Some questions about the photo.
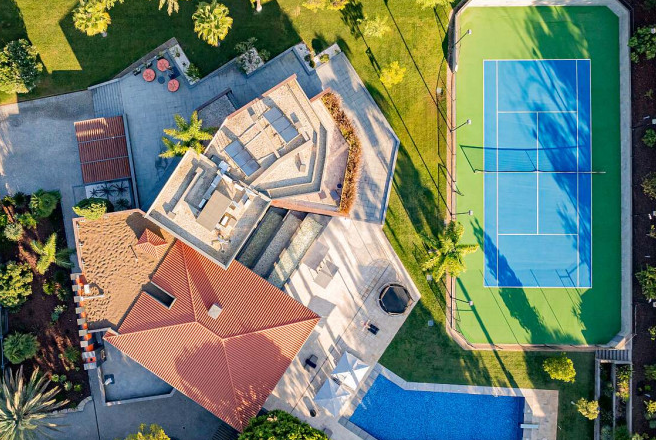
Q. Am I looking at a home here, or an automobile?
home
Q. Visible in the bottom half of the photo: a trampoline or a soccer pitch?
trampoline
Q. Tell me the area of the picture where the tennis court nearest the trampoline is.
right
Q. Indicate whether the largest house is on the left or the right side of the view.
left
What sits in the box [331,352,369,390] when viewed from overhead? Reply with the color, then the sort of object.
white umbrella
